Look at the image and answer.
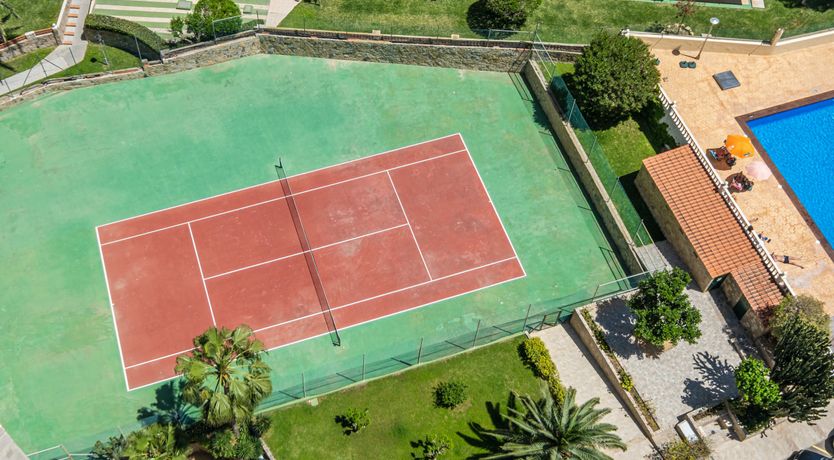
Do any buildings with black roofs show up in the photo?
No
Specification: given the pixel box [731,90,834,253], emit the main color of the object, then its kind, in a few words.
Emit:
blue swimming pool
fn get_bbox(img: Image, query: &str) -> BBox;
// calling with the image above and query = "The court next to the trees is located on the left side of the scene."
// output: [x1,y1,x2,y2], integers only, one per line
[0,53,635,460]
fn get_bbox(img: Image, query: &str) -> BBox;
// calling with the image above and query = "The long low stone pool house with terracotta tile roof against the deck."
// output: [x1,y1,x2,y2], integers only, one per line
[637,145,786,329]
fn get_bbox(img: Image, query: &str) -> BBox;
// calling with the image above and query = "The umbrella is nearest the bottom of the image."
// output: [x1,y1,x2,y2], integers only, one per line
[745,156,775,182]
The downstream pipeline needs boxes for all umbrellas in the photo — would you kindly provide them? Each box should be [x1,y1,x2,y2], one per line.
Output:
[725,134,756,164]
[745,156,775,182]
